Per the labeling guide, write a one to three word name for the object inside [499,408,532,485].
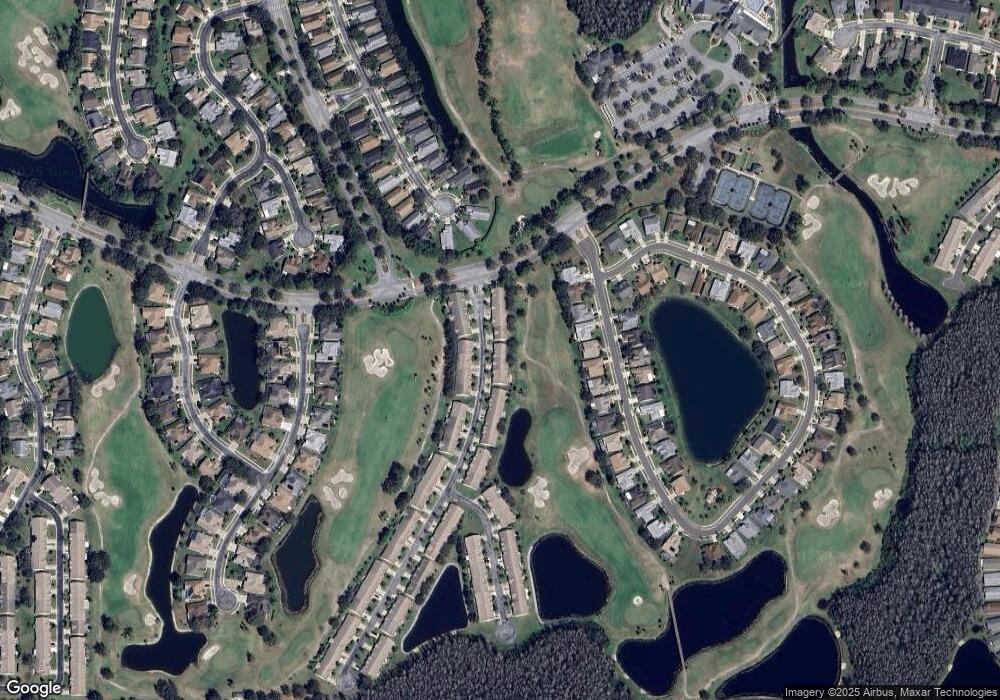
pond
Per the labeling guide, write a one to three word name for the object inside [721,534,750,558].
house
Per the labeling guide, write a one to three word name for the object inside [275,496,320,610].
pond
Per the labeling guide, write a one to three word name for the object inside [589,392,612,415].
house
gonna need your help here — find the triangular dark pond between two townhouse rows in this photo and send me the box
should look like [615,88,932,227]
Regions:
[403,565,467,651]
